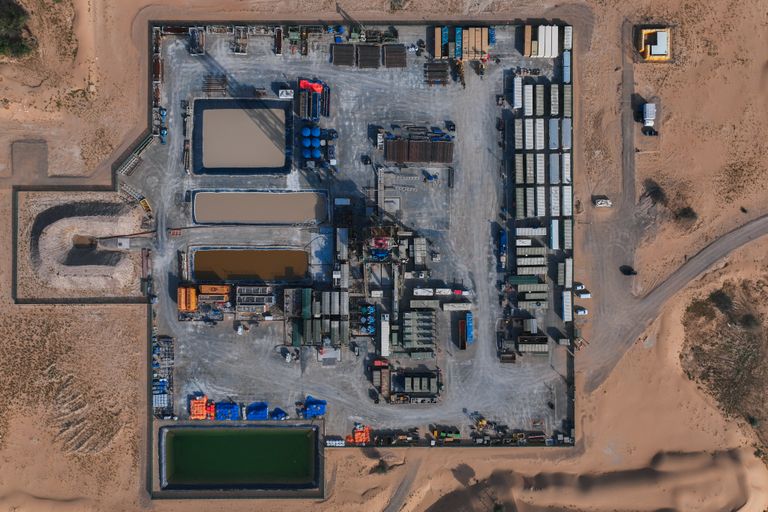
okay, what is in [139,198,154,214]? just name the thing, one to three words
vehicle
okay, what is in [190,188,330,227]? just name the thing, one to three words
pond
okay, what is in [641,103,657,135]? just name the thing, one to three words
vehicle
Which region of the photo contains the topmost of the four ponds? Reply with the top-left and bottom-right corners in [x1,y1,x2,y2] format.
[191,97,295,176]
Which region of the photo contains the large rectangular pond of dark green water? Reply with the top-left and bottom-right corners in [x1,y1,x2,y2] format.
[158,424,326,492]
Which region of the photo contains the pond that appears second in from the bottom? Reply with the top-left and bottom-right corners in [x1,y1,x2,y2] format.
[187,245,313,286]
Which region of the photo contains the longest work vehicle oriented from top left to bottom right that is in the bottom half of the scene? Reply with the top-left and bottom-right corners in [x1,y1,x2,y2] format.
[466,403,488,429]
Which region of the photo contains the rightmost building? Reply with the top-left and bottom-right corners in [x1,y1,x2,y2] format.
[648,31,670,58]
